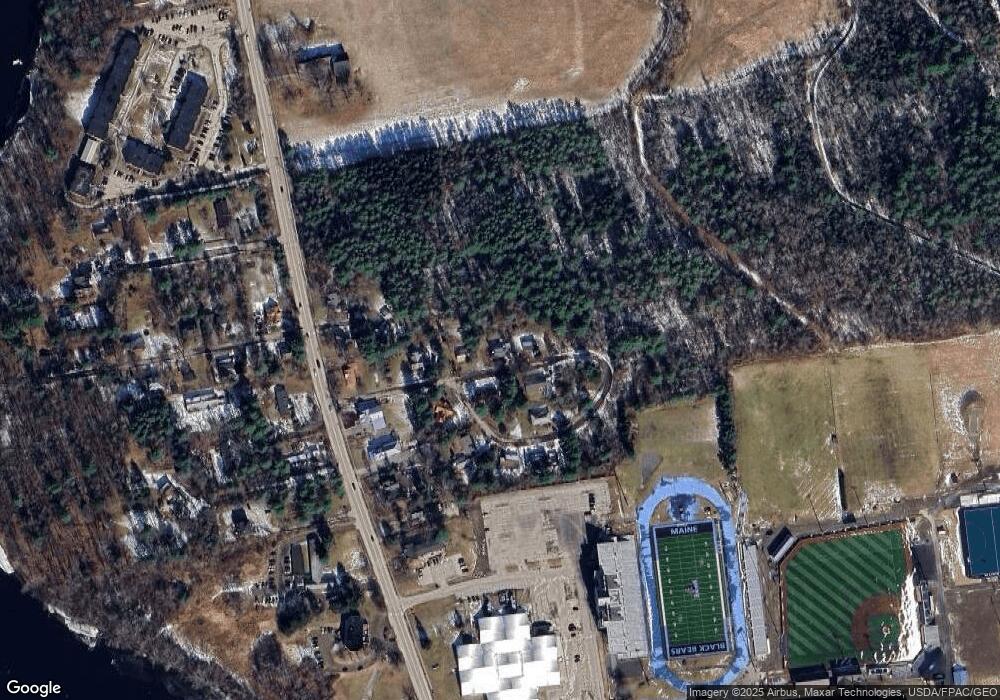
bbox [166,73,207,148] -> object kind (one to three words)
building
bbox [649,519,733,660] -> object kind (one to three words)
sports field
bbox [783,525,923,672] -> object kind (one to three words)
baseball field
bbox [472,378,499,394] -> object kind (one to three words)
house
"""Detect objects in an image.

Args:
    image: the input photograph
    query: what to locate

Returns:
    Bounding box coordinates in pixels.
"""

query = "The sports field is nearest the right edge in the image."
[960,505,1000,578]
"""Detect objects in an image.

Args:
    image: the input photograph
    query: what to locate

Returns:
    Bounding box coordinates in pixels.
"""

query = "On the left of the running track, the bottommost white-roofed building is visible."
[458,604,562,700]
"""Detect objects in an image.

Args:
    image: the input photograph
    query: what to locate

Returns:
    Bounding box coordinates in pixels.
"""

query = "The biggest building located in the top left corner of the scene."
[87,32,141,138]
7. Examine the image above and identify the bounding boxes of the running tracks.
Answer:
[639,476,749,699]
